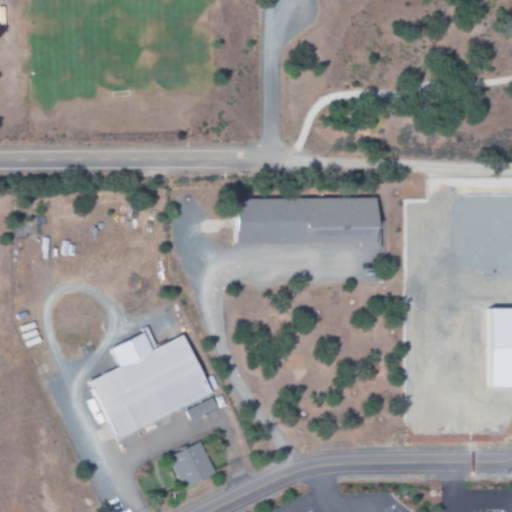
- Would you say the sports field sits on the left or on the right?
left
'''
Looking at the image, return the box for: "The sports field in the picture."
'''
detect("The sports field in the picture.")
[26,0,214,114]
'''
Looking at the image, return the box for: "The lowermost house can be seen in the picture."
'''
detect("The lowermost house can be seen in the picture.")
[174,441,216,488]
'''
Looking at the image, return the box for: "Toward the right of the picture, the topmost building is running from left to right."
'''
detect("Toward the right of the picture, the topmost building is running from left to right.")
[237,197,382,244]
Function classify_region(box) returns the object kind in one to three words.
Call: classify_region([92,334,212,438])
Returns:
building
